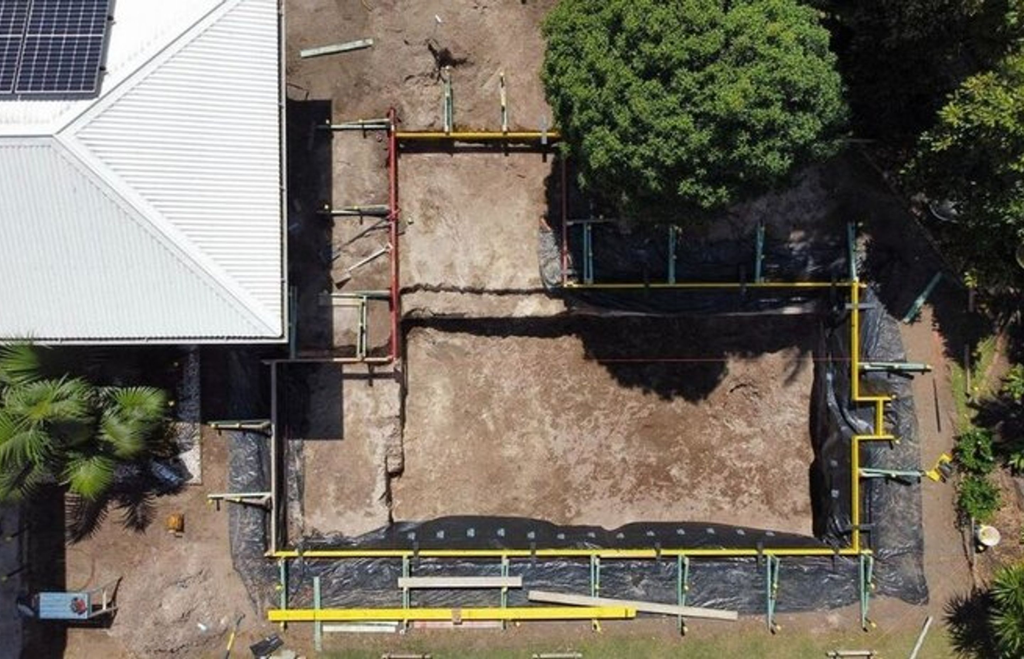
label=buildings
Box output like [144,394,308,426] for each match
[0,0,290,361]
